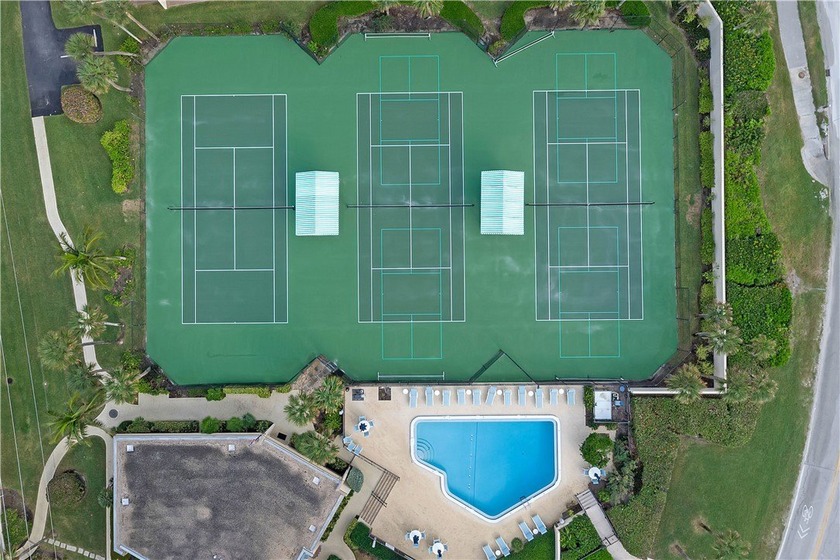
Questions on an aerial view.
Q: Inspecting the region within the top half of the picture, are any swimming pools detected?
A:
No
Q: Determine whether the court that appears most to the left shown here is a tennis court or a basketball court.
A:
tennis court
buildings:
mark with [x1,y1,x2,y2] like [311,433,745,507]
[590,388,611,419]
[113,433,345,560]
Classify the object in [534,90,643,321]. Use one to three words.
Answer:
tennis court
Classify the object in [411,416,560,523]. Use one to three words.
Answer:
swimming pool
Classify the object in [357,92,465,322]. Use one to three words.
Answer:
tennis court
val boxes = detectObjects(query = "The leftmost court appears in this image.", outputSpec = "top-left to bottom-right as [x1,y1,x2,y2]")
[181,94,288,324]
